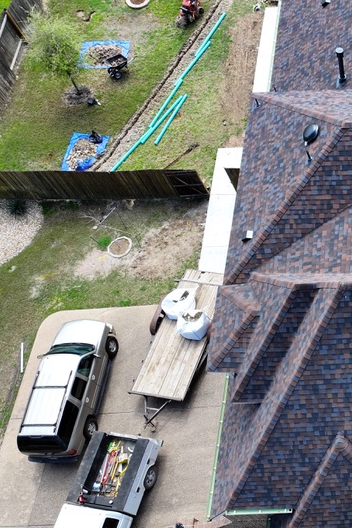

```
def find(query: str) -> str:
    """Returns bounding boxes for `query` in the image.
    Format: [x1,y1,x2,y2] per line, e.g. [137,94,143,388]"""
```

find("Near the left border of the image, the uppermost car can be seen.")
[17,323,119,465]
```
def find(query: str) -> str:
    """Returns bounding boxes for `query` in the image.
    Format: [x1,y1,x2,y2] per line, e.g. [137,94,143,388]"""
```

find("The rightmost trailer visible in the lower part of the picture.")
[124,261,226,439]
